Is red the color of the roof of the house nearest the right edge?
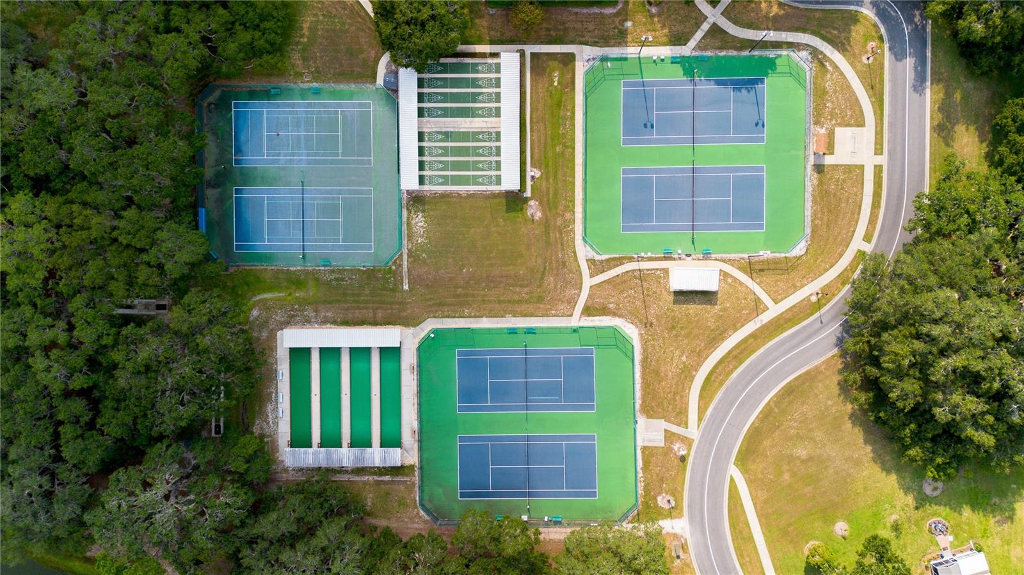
No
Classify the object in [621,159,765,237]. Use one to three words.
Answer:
tennis court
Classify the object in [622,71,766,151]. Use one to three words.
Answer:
tennis court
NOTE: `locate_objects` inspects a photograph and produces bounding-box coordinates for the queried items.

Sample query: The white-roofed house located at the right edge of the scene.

[924,540,991,575]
